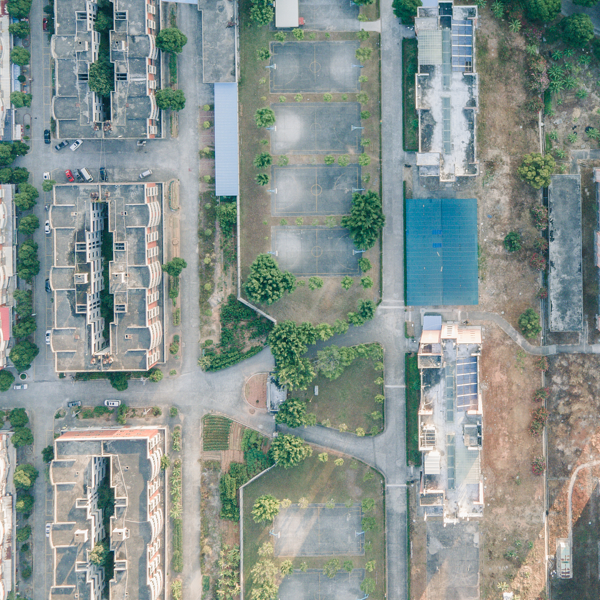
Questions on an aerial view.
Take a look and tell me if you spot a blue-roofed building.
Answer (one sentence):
Yes, the picture does show a blue-roofed building.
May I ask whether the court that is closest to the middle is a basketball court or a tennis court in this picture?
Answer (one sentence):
In the photo, the court that is closest to the middle shows up as a basketball court.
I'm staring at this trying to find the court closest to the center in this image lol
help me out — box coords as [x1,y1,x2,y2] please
[271,225,362,277]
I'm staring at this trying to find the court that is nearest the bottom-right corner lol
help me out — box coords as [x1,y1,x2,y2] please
[427,521,482,600]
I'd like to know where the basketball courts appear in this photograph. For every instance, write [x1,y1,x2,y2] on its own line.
[271,225,362,277]
[271,164,362,217]
[273,503,364,558]
[270,0,361,33]
[278,568,366,600]
[270,41,361,94]
[270,102,362,155]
